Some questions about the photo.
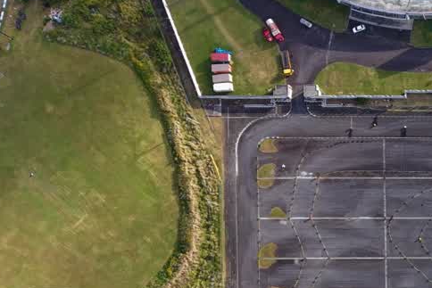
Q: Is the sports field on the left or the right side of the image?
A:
left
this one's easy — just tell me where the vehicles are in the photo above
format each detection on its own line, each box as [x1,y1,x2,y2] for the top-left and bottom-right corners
[300,18,311,28]
[281,52,292,77]
[213,75,233,84]
[212,65,232,74]
[213,83,234,93]
[267,20,286,45]
[261,28,272,41]
[214,48,231,55]
[353,25,365,32]
[212,54,231,63]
